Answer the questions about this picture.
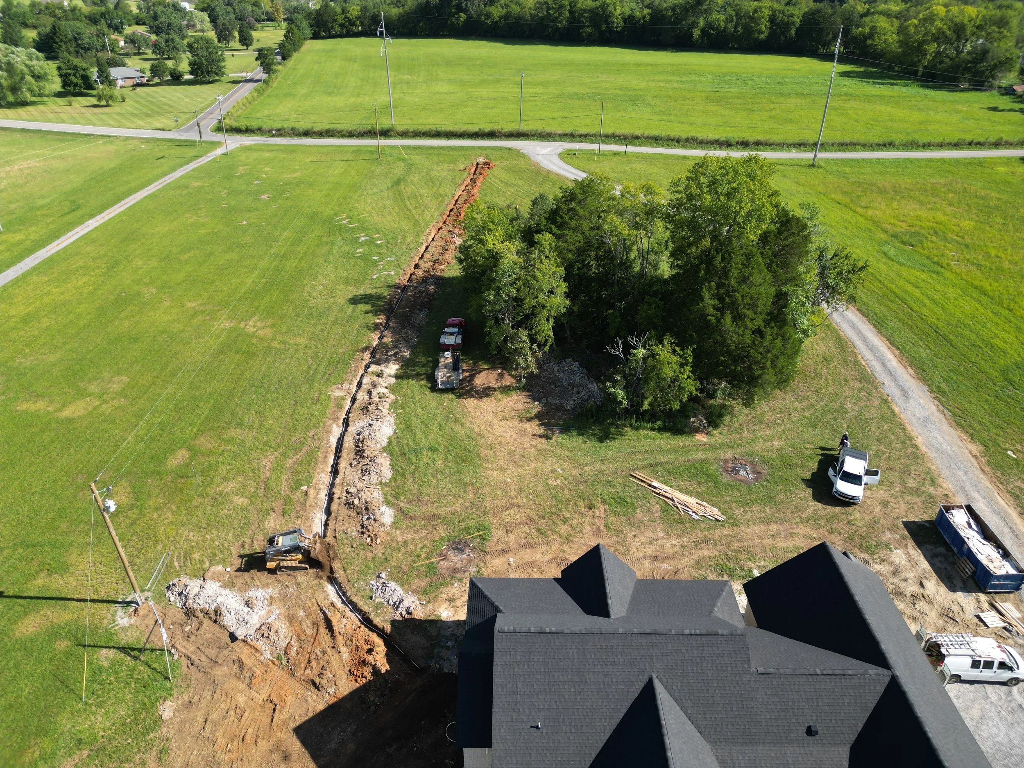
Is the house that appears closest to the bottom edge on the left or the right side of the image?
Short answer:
right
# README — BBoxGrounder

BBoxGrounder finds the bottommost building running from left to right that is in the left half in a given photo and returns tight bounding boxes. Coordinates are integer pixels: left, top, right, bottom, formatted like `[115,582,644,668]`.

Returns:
[85,64,149,88]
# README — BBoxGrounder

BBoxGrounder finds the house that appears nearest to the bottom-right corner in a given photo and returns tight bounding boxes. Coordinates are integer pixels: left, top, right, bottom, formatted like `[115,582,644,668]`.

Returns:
[458,540,990,768]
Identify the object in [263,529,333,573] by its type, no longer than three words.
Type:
work vehicle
